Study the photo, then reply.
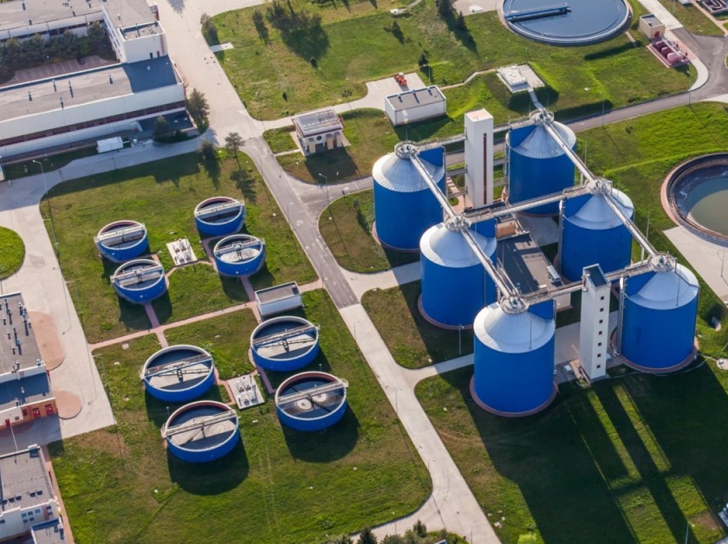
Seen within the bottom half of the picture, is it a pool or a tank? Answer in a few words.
tank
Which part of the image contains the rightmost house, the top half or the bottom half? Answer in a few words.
top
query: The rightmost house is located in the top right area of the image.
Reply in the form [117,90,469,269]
[639,13,667,39]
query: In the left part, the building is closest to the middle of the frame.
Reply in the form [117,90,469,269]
[253,282,304,318]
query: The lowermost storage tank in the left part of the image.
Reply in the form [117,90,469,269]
[158,406,244,469]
